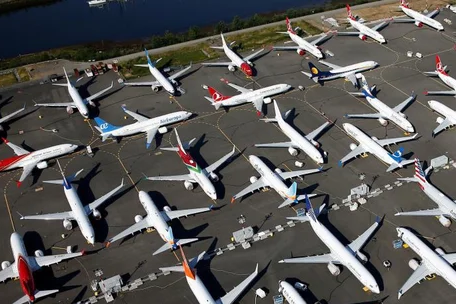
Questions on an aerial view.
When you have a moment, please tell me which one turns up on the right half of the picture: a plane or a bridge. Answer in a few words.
plane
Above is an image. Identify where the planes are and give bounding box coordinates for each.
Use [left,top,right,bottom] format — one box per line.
[16,163,126,245]
[205,78,290,114]
[427,101,456,135]
[395,160,456,230]
[333,5,387,46]
[120,50,192,97]
[251,102,330,165]
[31,69,113,120]
[232,156,322,207]
[94,105,192,146]
[269,19,328,59]
[0,233,85,304]
[0,136,78,185]
[161,245,260,304]
[344,77,414,135]
[0,104,27,134]
[390,0,443,33]
[198,33,265,79]
[339,124,416,170]
[424,57,456,97]
[104,192,213,254]
[144,131,235,200]
[280,196,379,293]
[397,228,456,296]
[304,56,378,88]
